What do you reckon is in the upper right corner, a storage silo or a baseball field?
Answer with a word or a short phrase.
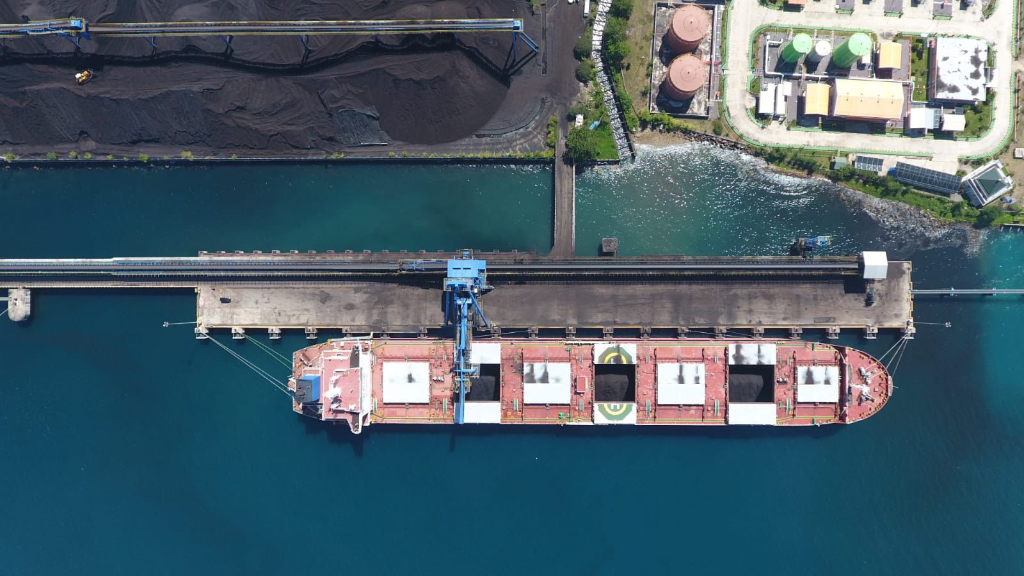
storage silo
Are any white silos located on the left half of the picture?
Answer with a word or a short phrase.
No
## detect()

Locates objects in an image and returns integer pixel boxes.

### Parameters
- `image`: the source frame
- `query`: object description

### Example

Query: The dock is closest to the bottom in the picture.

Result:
[197,248,912,339]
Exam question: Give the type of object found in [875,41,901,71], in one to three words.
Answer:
house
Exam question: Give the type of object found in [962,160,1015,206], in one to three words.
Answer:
building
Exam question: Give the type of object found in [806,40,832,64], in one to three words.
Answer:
silo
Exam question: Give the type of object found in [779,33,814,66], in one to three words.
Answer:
silo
